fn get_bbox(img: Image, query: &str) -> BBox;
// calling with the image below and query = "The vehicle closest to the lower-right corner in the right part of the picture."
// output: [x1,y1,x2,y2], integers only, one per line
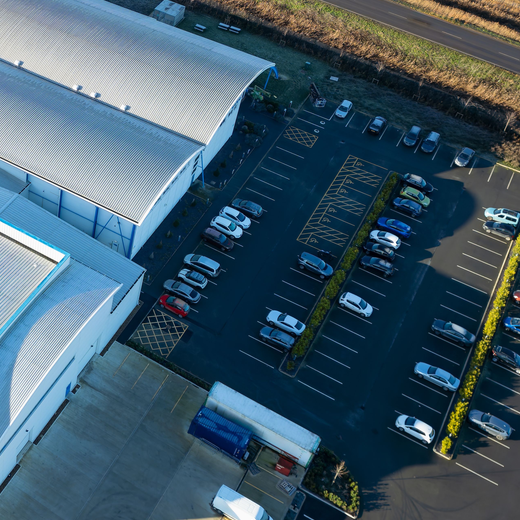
[467,410,514,441]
